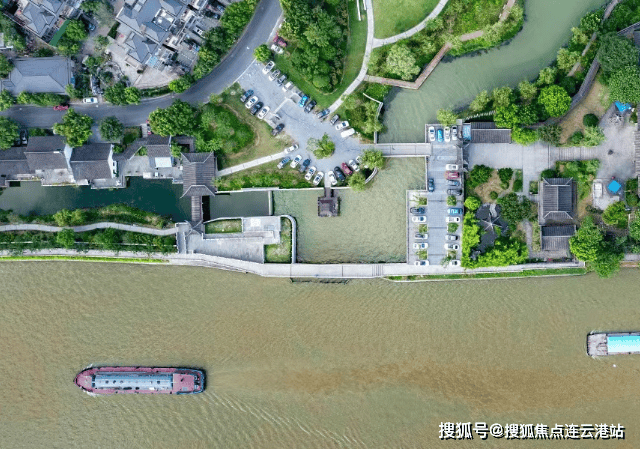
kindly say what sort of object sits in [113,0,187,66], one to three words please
house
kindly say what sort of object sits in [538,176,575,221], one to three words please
building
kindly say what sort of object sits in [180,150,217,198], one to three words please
building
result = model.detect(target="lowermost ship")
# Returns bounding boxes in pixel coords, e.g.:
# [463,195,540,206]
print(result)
[73,364,207,395]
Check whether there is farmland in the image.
No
